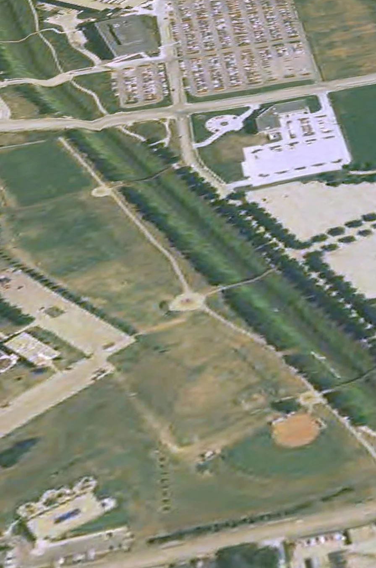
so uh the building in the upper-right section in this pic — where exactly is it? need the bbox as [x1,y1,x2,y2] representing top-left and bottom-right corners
[259,98,310,134]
